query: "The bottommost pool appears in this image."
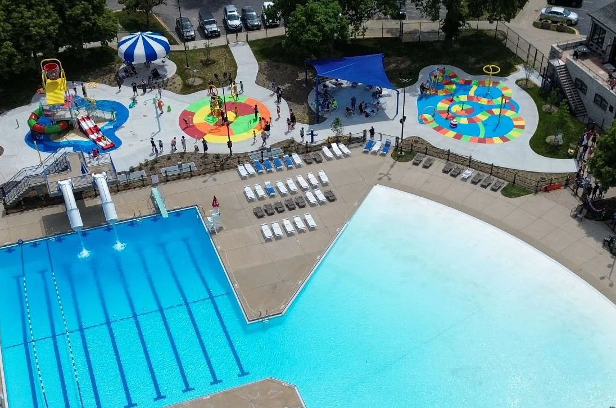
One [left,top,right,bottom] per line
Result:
[0,185,616,408]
